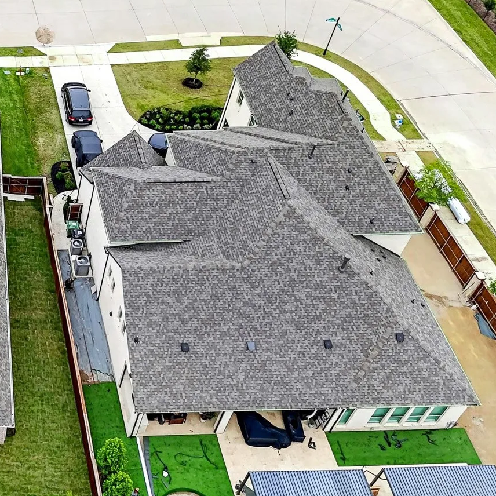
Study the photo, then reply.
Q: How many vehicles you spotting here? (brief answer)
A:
3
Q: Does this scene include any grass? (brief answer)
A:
Yes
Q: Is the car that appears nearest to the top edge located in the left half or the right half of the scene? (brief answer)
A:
left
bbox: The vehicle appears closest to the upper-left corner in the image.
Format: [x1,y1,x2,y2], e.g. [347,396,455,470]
[60,83,97,132]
